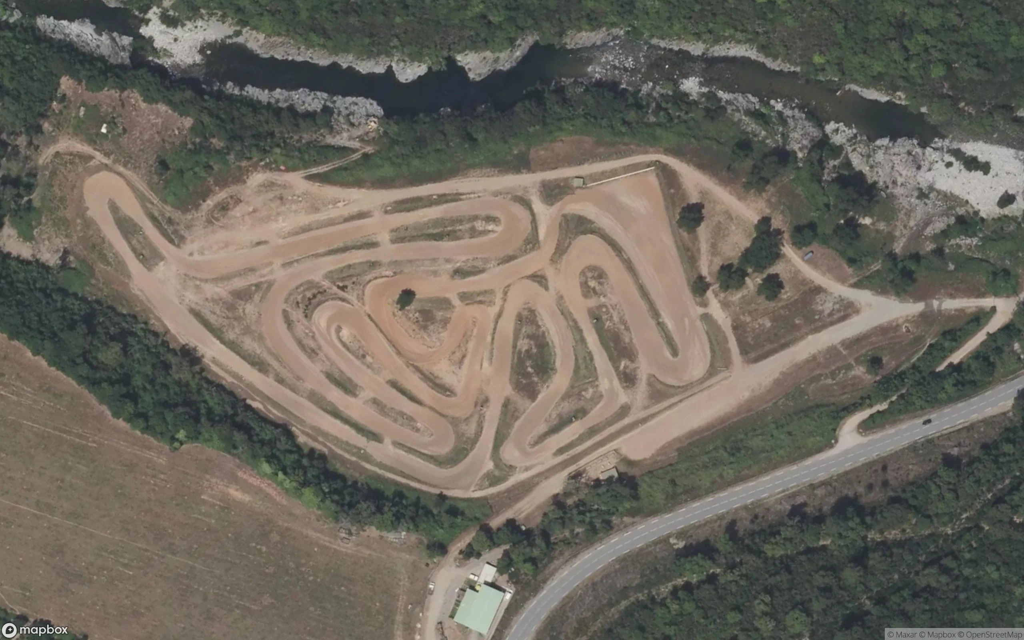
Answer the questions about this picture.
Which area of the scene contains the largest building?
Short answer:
bottom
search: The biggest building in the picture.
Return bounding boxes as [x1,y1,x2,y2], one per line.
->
[454,585,505,635]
